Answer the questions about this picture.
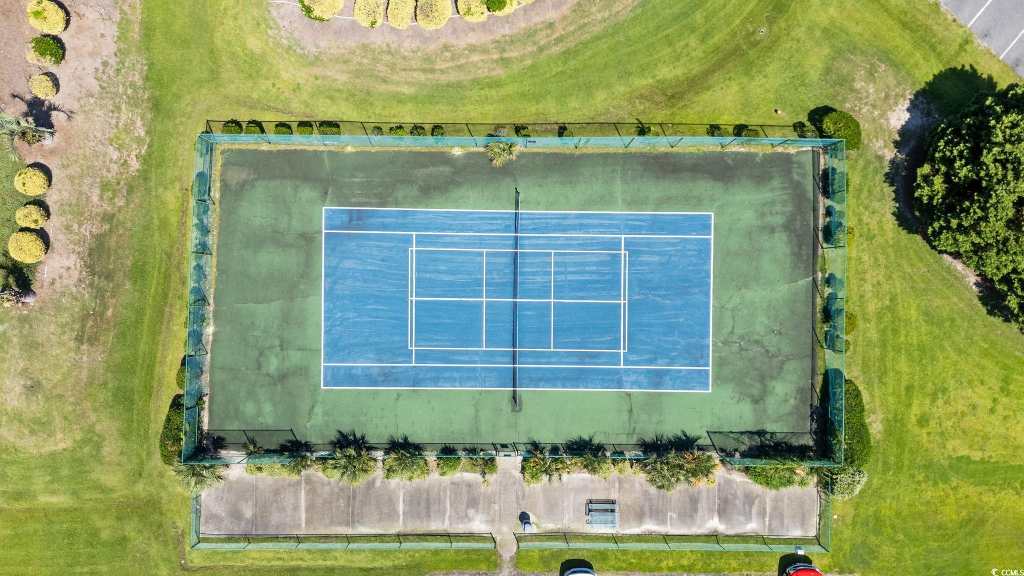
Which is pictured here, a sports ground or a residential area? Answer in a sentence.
This image shows a sports ground.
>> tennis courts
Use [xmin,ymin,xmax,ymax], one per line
[206,148,819,453]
